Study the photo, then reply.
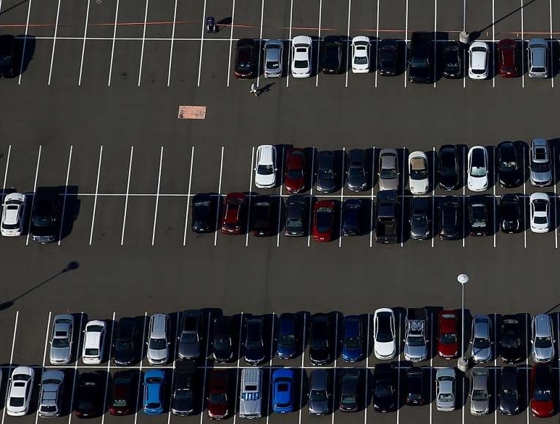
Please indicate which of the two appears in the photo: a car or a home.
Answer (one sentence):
I can see a car in this picture.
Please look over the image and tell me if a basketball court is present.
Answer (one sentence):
No, the photo shows no basketball court.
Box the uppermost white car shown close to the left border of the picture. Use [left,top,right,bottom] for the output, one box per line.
[0,191,27,236]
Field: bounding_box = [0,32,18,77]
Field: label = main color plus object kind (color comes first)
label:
black car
